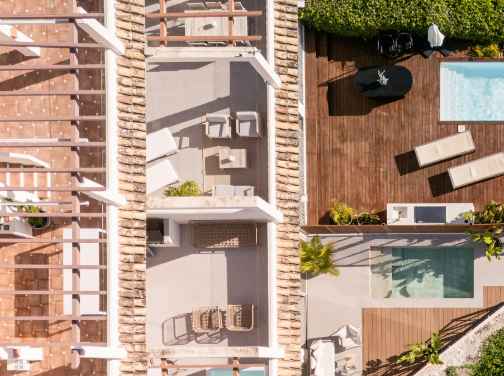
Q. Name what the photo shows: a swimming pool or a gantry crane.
swimming pool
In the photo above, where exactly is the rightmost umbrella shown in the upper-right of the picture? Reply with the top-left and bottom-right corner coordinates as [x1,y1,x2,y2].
[418,21,454,73]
